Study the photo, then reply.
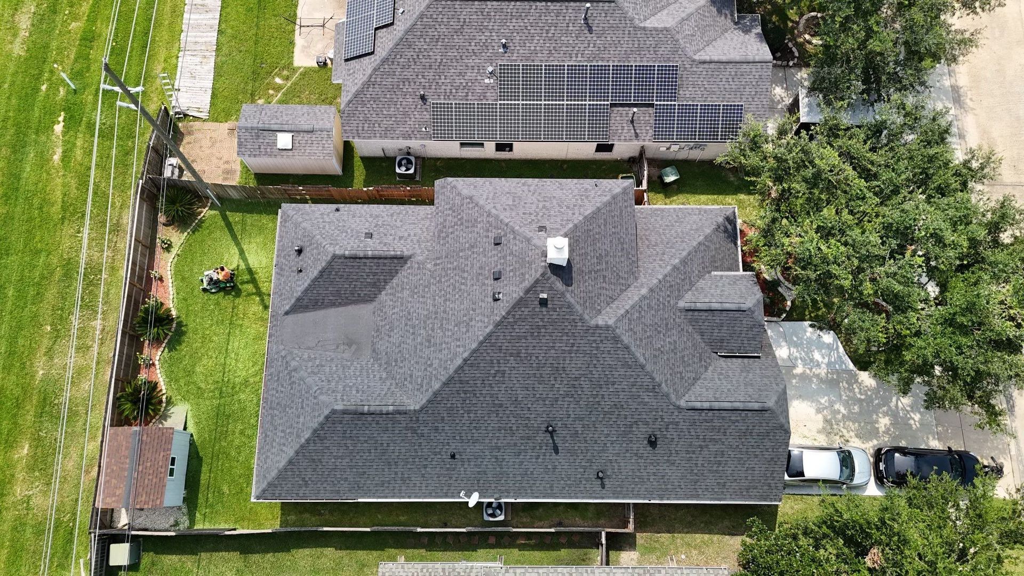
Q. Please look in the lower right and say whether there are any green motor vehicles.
No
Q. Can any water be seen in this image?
No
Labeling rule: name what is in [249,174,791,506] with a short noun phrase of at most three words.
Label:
house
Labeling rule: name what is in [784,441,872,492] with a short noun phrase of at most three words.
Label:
car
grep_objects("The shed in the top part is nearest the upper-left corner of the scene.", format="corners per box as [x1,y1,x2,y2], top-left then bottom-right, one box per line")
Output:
[236,105,344,174]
